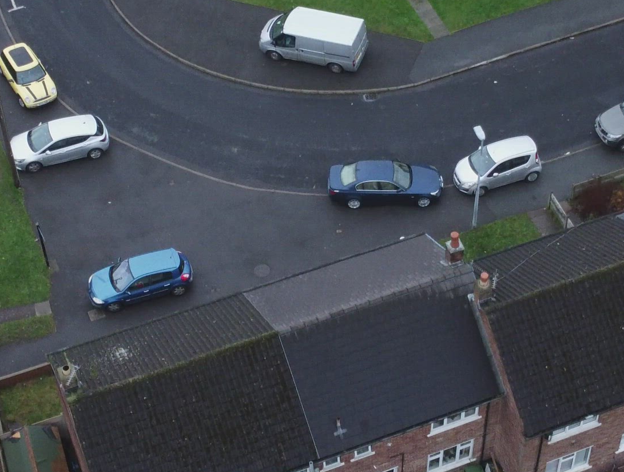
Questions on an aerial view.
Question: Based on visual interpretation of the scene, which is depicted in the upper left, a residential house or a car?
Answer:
car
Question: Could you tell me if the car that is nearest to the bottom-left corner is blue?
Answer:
Yes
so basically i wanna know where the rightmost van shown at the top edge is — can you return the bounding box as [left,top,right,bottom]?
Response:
[258,6,371,74]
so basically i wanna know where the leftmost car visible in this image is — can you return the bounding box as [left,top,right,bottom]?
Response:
[0,39,59,112]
